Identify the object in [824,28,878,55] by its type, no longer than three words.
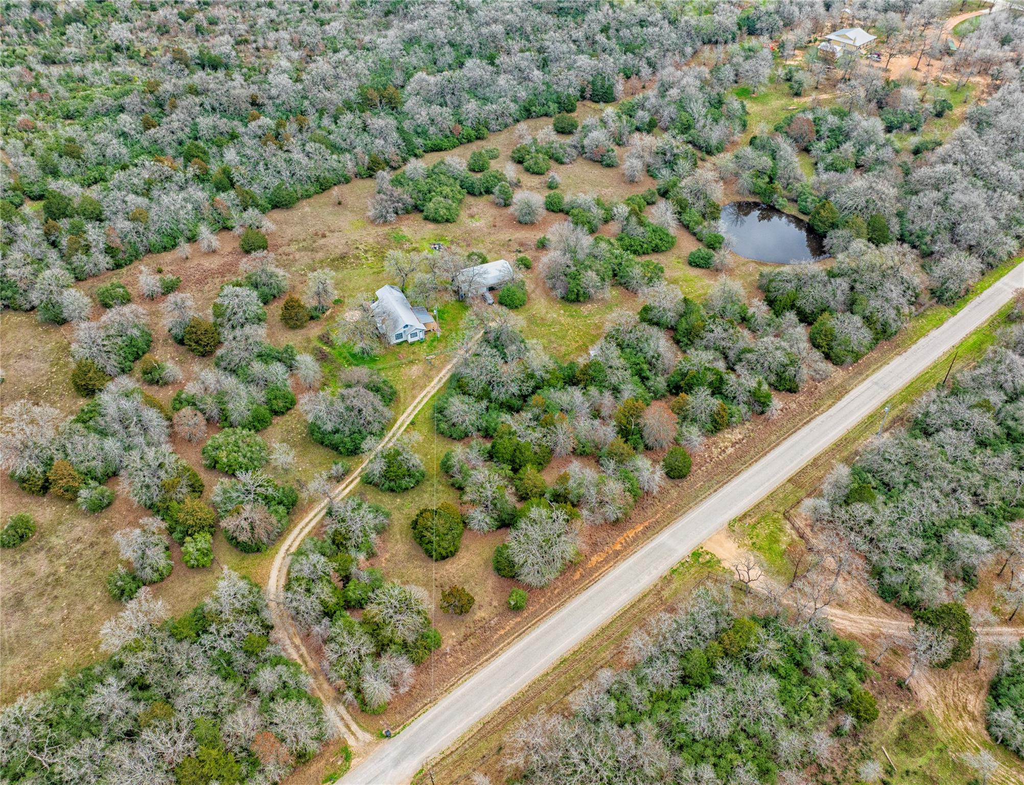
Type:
house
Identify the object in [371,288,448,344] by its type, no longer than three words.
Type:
house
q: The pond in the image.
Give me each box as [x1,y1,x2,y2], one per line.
[716,201,843,268]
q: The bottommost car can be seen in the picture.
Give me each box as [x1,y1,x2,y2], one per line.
[482,291,496,303]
